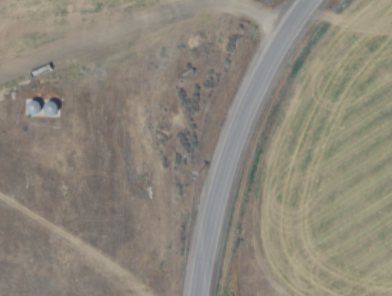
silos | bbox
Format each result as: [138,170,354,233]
[25,100,40,114]
[42,100,57,115]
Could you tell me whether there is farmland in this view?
Yes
